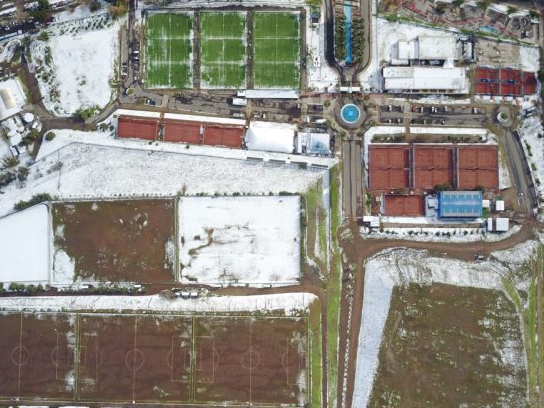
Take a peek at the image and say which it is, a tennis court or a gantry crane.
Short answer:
tennis court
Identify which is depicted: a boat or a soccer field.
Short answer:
soccer field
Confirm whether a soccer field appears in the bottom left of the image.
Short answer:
Yes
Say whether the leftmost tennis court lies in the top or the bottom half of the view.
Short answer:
top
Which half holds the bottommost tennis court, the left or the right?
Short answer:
right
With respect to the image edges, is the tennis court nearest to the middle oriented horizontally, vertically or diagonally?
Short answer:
horizontally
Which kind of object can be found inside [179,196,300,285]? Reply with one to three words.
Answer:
soccer field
